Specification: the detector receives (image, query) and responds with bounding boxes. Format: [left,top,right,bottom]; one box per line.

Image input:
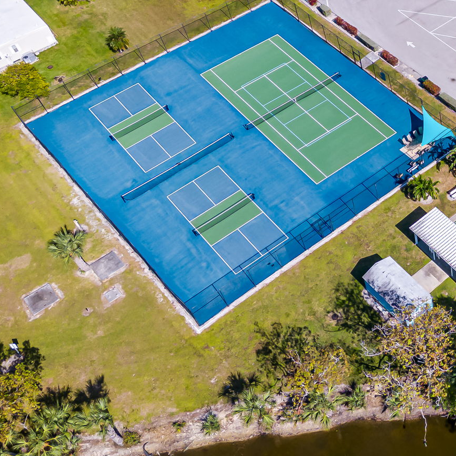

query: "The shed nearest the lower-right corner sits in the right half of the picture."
[362,257,434,327]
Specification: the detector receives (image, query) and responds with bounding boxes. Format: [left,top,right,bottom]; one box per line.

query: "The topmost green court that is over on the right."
[201,34,396,184]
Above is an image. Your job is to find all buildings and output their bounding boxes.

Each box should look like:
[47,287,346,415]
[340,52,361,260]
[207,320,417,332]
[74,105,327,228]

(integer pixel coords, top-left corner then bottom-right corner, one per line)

[362,257,434,327]
[0,0,58,69]
[409,209,456,270]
